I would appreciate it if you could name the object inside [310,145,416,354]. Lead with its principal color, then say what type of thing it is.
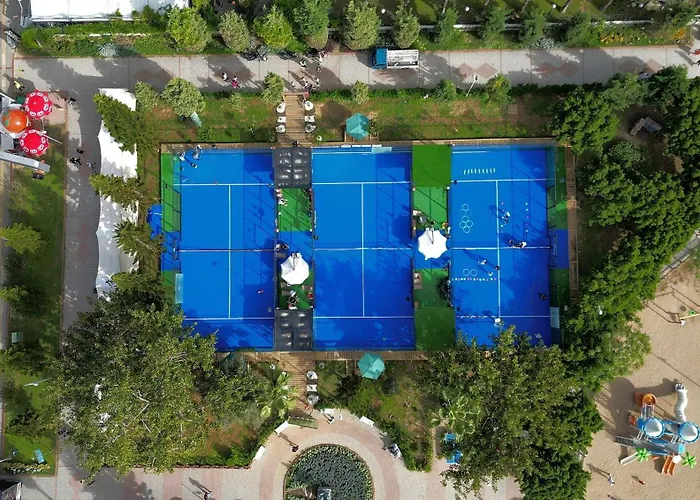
blue sports court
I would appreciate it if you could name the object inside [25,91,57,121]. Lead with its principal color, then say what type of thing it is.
red umbrella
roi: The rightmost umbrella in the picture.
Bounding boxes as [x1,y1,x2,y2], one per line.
[416,228,448,260]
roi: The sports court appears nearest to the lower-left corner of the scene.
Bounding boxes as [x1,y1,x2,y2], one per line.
[170,147,278,354]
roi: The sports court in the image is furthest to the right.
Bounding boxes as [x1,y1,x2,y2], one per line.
[448,143,562,352]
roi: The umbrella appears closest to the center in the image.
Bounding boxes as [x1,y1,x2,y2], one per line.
[282,254,308,281]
